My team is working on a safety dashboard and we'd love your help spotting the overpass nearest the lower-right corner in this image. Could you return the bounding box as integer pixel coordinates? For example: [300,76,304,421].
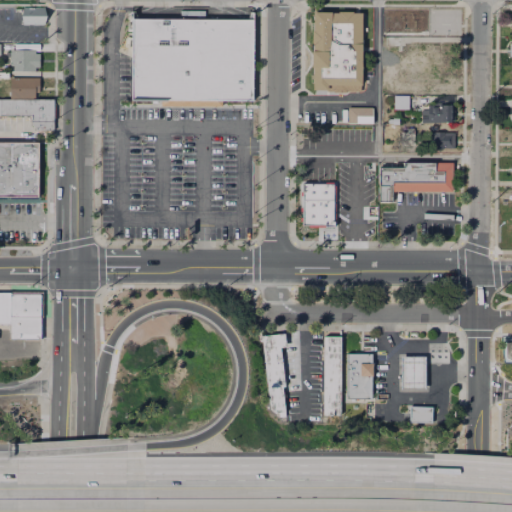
[434,452,512,512]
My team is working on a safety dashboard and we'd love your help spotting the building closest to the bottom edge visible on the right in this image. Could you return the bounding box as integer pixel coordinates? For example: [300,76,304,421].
[410,405,434,424]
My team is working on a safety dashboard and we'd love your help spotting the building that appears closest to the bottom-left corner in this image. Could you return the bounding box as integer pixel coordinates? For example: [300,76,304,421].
[0,292,42,340]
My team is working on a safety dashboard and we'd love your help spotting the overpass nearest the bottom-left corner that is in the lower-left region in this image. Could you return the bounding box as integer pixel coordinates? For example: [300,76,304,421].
[18,438,145,512]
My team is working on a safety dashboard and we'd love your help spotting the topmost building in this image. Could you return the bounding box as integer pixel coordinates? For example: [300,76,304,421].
[22,8,48,26]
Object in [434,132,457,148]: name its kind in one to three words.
house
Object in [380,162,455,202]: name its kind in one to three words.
building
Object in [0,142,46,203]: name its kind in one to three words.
building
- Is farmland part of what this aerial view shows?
No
